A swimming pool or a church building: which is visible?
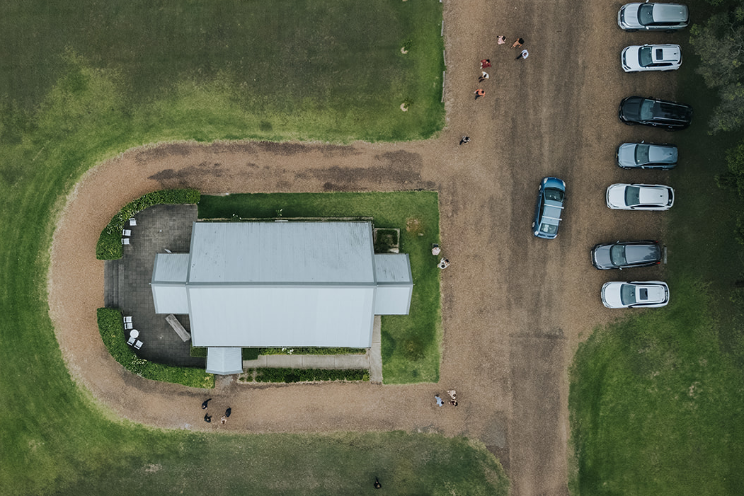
church building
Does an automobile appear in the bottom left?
No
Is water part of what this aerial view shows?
No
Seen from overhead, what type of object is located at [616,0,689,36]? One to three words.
car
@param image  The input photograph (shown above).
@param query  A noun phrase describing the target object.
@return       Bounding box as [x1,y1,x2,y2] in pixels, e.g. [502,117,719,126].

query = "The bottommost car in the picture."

[599,277,669,312]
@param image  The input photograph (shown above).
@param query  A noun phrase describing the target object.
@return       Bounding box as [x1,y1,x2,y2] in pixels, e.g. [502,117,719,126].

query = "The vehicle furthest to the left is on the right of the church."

[531,180,568,239]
